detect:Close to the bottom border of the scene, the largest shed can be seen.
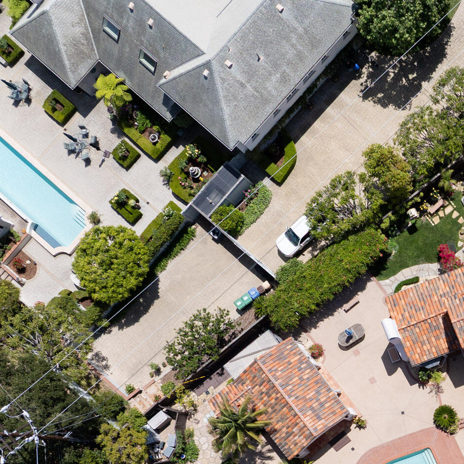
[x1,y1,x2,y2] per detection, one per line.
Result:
[207,337,364,459]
